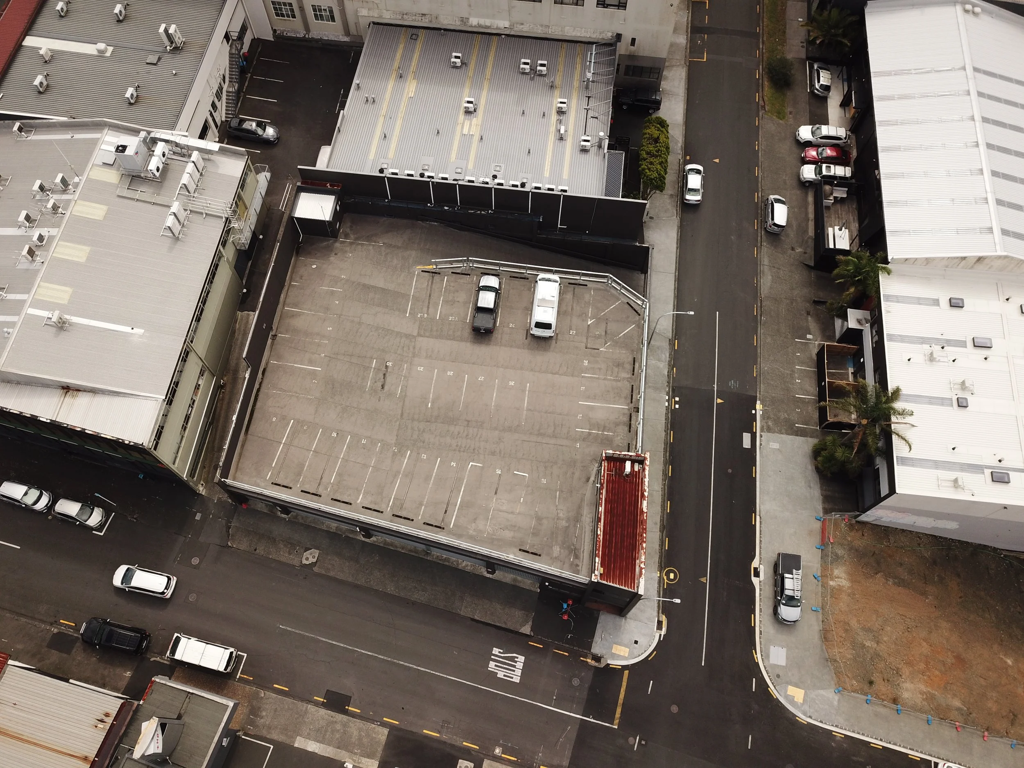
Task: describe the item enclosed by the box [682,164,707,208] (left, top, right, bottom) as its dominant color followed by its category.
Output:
white car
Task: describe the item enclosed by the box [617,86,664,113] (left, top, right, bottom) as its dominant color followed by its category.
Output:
black car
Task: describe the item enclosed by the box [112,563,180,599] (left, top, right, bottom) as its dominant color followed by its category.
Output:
white car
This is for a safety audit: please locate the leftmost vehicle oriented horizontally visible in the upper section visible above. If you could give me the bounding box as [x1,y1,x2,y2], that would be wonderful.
[225,115,282,145]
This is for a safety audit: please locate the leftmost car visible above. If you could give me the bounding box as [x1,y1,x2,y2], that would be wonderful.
[0,476,57,511]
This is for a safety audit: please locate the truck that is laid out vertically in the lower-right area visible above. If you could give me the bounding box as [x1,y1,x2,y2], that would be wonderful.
[775,552,808,624]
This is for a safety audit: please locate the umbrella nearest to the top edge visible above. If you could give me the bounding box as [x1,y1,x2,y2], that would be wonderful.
[817,183,839,203]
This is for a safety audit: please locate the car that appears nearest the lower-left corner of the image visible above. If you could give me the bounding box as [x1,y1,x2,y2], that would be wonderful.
[78,614,154,656]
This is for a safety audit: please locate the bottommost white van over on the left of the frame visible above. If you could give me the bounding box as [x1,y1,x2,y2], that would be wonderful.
[167,629,240,672]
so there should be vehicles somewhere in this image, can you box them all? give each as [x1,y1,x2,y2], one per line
[167,629,240,672]
[78,614,154,656]
[775,552,808,624]
[531,274,563,339]
[937,757,976,768]
[472,275,502,335]
[0,476,57,511]
[796,123,849,148]
[682,164,707,208]
[764,196,790,237]
[801,144,852,165]
[46,498,111,531]
[799,161,853,187]
[112,563,180,599]
[809,62,833,101]
[617,86,664,113]
[225,115,282,145]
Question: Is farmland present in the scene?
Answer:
No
